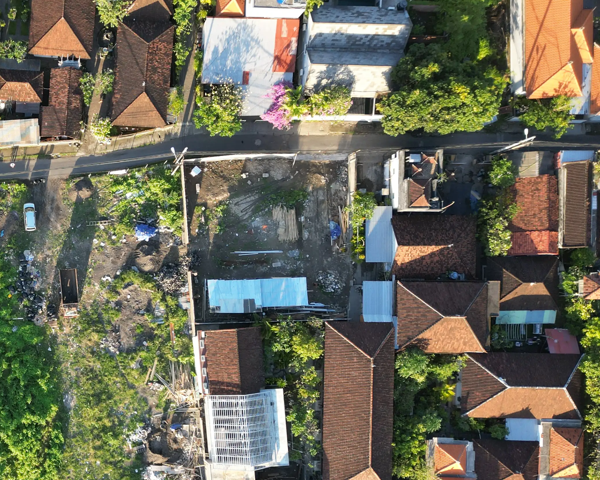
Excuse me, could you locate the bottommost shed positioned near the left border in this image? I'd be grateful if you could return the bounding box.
[0,121,40,145]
